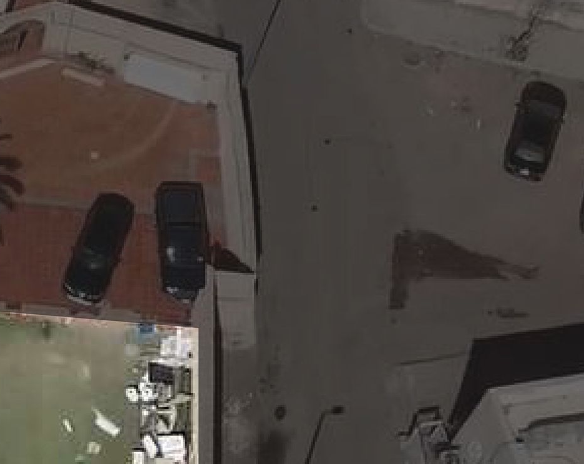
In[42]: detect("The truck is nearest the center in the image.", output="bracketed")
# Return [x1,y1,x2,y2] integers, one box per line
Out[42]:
[156,183,211,303]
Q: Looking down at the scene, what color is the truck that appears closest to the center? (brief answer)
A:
black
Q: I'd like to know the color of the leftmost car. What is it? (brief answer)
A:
black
